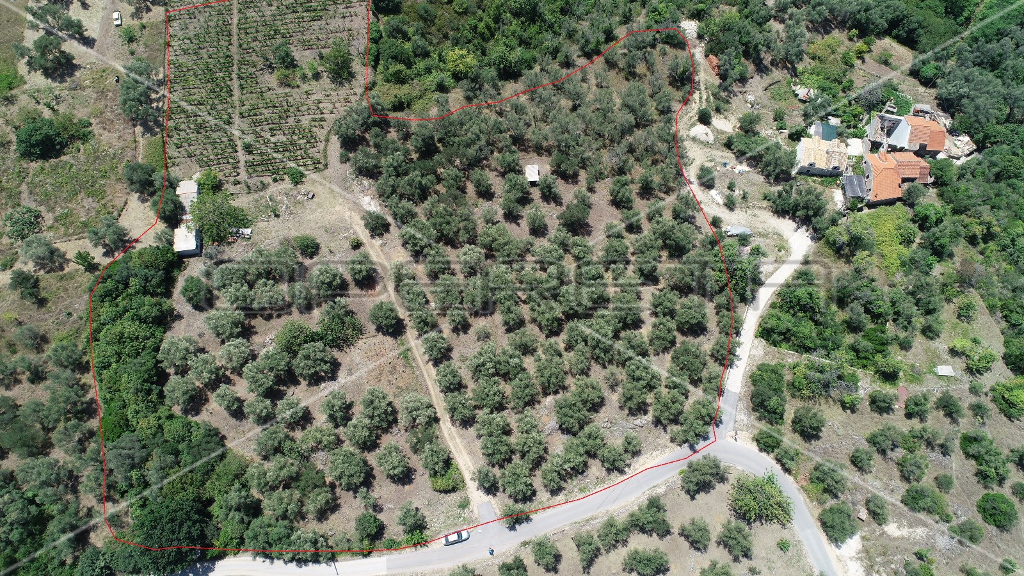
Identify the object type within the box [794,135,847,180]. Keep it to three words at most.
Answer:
house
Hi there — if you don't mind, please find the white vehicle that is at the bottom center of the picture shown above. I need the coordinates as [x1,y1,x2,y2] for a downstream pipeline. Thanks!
[442,530,470,547]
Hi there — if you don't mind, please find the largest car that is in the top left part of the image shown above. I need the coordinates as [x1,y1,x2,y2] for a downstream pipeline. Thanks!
[109,8,121,25]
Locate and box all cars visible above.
[442,530,470,547]
[109,8,121,25]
